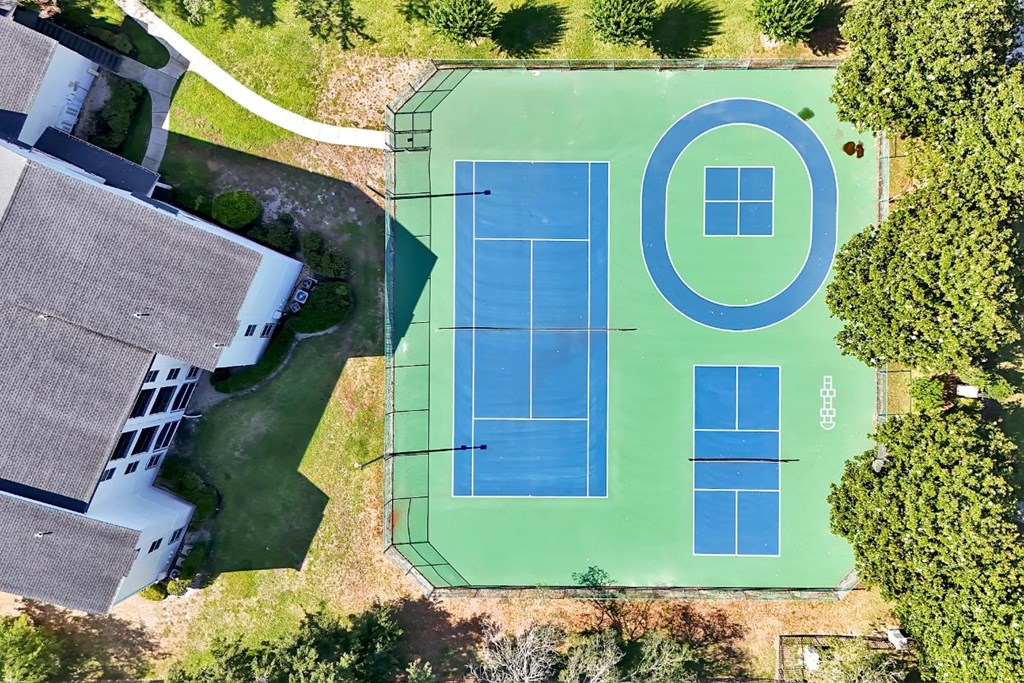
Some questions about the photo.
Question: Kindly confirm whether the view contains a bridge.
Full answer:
No, no bridge is visible in the view.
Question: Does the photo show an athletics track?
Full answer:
Yes, an athletics track is visible in the scene.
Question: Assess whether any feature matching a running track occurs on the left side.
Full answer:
No, looking on the left side, there is no running track.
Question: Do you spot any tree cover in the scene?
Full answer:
Yes, the picture does contain tree cover.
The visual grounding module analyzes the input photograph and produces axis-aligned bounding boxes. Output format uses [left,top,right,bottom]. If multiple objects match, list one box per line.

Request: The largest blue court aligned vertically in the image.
[452,160,609,497]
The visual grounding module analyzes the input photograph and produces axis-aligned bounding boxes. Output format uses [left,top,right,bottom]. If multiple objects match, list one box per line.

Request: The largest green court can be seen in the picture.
[392,68,879,588]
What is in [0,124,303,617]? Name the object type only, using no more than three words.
building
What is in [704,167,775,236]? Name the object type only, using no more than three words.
sports court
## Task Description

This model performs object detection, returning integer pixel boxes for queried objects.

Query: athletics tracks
[641,98,838,331]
